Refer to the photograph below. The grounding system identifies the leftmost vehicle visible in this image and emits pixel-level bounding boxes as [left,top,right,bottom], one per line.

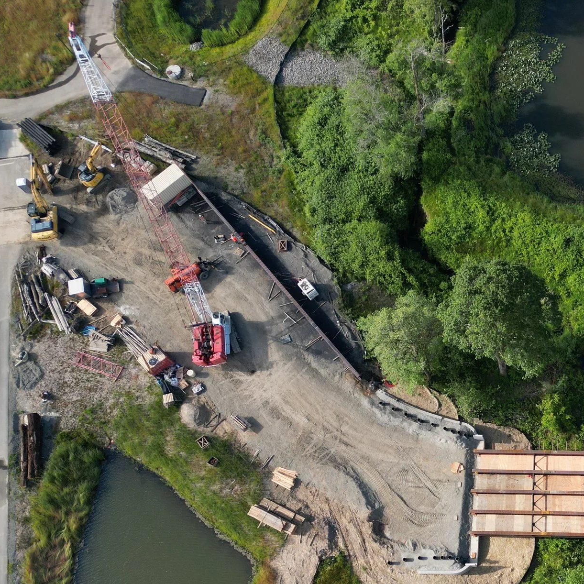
[27,154,69,243]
